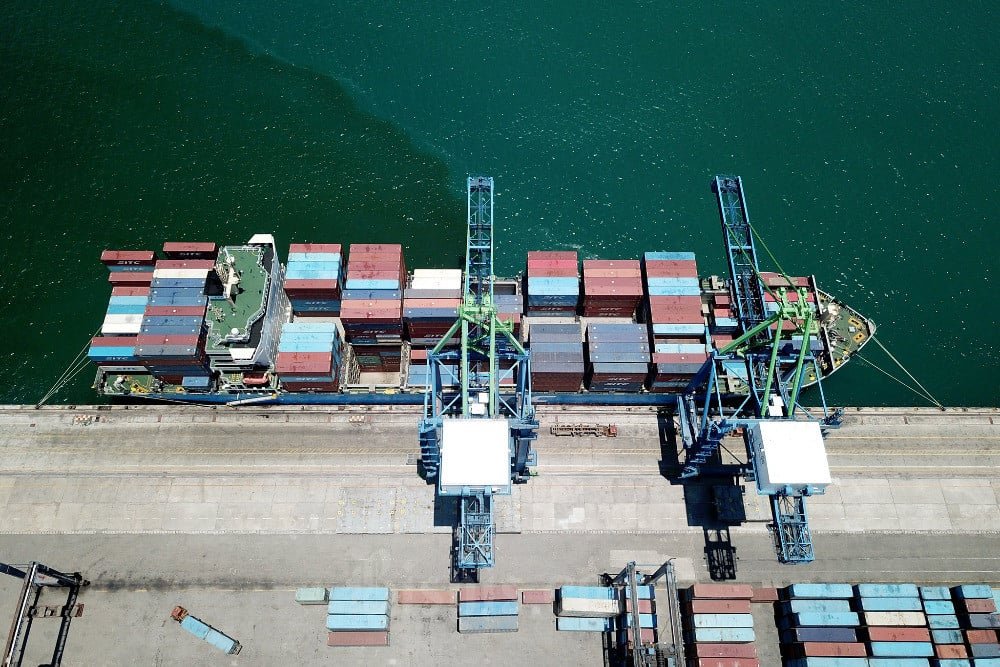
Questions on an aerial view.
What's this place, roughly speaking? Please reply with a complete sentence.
The picture captures a port.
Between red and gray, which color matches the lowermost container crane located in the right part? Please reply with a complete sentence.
In this view, the lowermost container crane located in the right part is gray.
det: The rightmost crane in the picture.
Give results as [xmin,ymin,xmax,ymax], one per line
[668,175,848,569]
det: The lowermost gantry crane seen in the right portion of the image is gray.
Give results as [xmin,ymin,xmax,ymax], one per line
[609,560,690,667]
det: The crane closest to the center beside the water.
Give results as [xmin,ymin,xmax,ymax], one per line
[411,174,550,568]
